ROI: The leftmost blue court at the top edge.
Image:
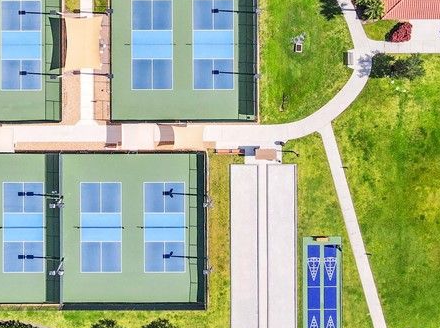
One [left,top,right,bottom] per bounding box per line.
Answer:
[0,0,46,91]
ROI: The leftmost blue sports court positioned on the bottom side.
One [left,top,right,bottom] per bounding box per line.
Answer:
[0,182,48,273]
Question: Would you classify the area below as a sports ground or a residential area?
sports ground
